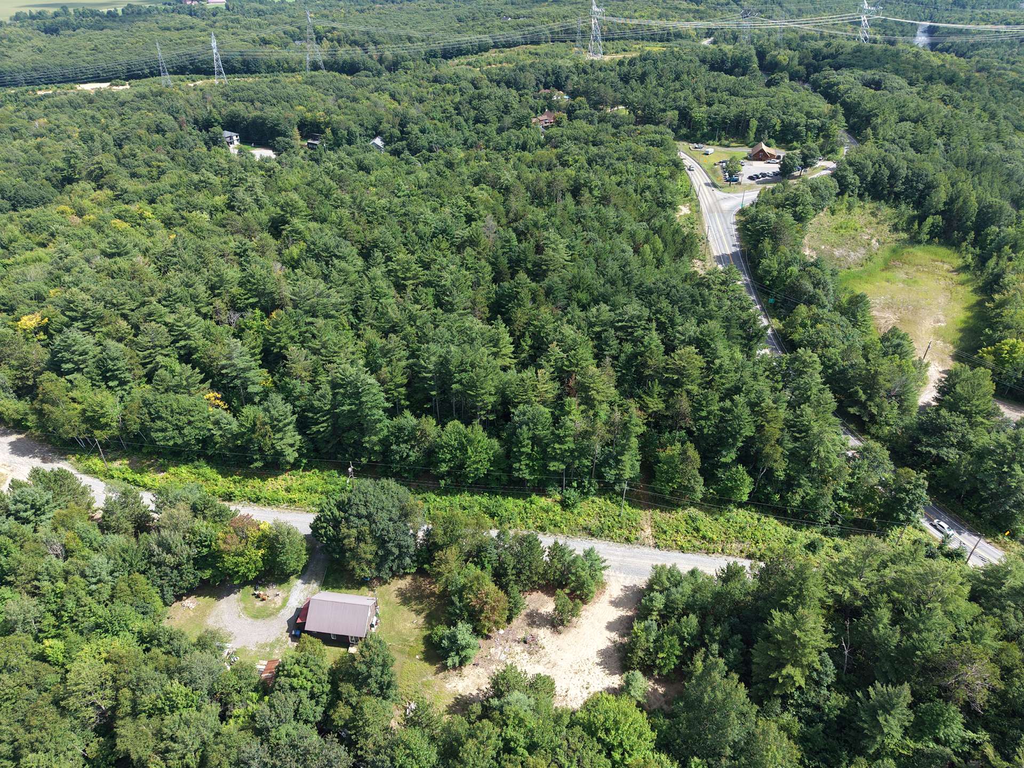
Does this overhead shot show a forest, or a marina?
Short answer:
forest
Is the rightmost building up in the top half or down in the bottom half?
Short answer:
top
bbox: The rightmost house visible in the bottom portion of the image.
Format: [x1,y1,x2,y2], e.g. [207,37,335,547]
[294,592,379,661]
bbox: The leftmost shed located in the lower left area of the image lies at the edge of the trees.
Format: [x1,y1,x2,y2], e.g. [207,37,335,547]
[254,656,285,693]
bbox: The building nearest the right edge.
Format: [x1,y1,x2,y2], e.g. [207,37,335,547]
[742,134,790,159]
